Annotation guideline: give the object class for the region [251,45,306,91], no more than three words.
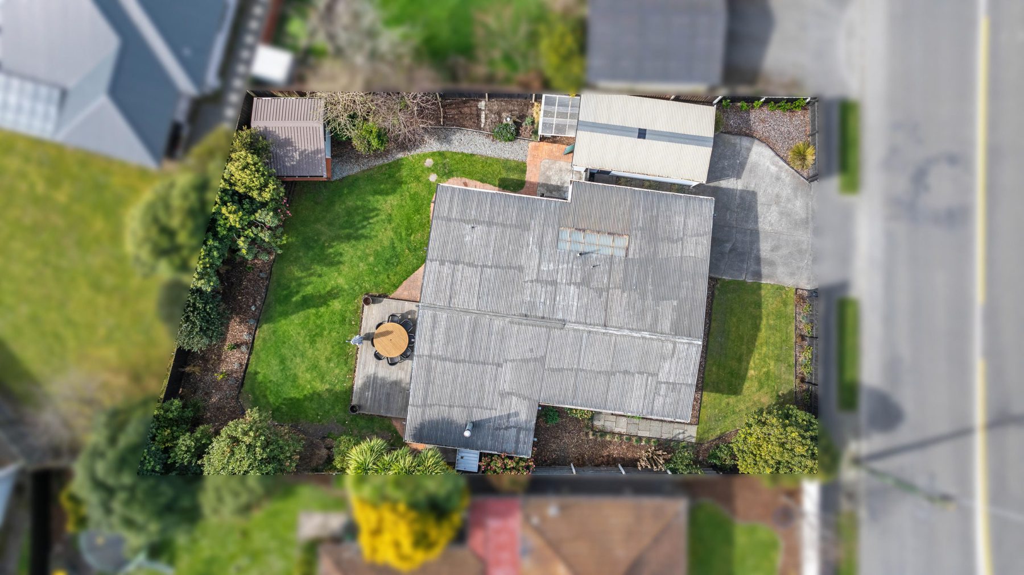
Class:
shed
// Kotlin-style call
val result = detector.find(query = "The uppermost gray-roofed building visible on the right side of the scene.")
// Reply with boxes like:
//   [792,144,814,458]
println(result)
[588,0,726,94]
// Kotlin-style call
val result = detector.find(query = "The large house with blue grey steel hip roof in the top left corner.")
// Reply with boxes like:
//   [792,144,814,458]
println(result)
[0,0,232,170]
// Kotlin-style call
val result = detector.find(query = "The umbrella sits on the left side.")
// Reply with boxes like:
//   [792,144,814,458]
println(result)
[346,332,362,347]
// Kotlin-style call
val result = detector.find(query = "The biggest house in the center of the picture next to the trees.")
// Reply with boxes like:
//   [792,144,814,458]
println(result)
[401,177,718,460]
